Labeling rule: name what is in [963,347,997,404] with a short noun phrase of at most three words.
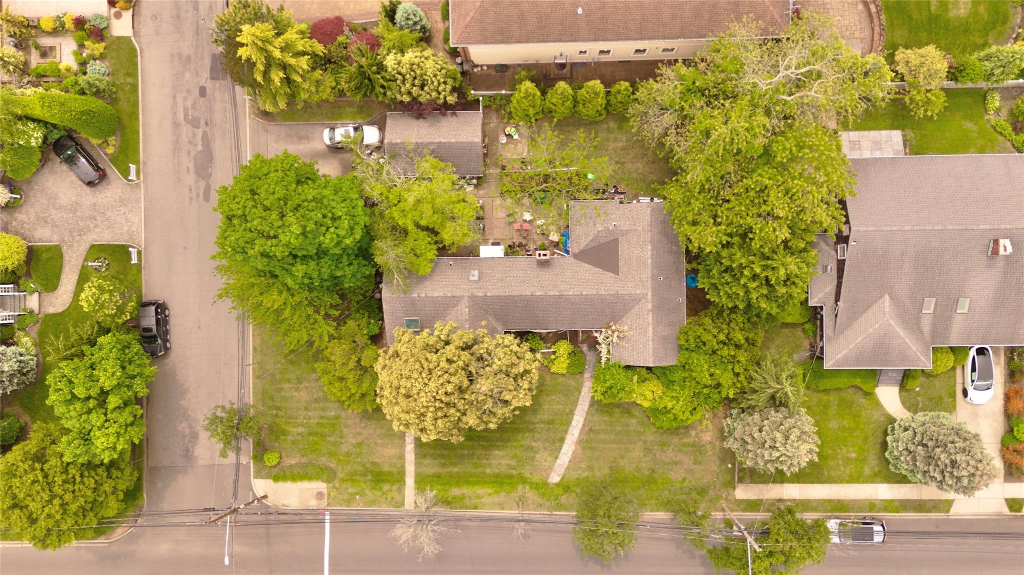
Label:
car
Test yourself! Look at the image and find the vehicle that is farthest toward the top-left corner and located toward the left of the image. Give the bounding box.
[53,134,106,191]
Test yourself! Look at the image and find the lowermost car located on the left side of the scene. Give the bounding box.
[140,300,172,356]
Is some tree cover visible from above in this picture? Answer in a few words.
Yes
